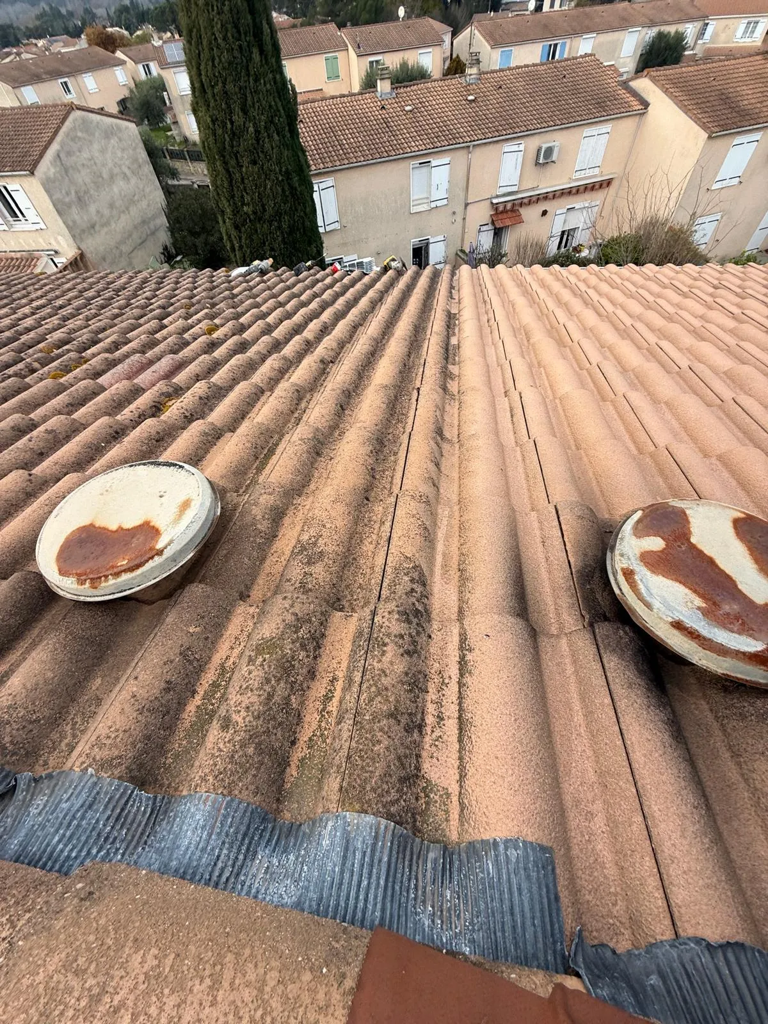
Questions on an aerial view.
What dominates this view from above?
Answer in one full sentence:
Most of the picture is covered by buildings.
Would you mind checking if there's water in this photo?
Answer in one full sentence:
No, the scene doesn't show any water.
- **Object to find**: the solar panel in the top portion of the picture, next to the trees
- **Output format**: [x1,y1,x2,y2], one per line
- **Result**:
[149,38,182,58]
